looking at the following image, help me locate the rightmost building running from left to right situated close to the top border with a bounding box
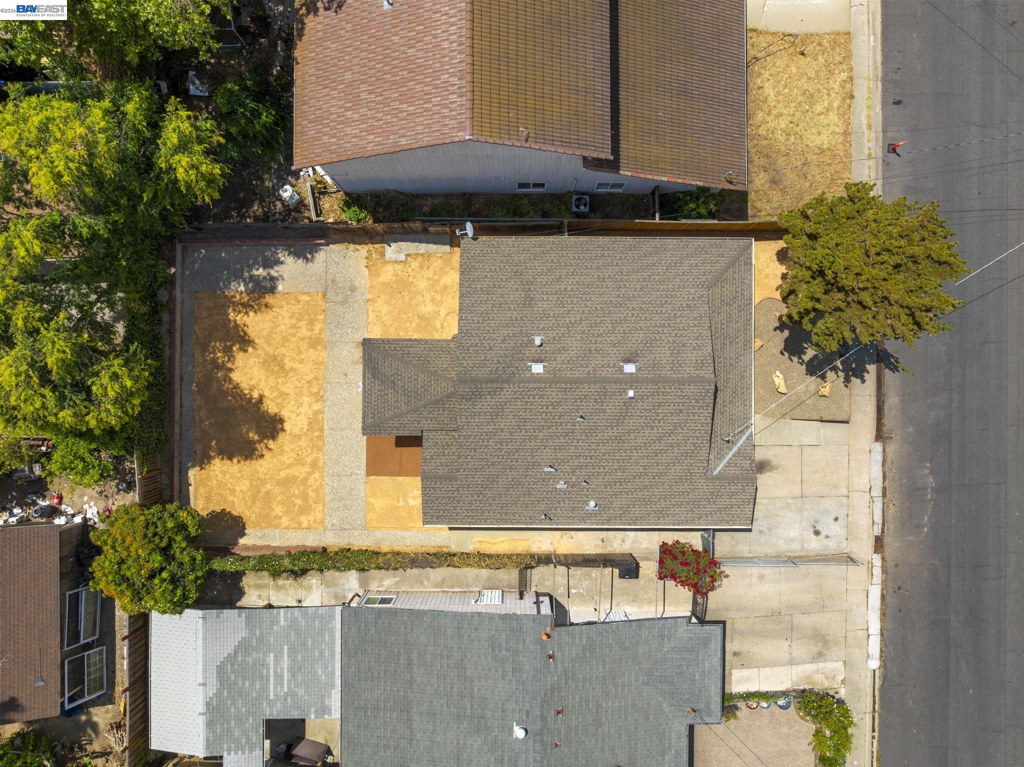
[291,0,749,194]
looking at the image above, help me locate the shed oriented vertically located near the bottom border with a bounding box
[0,518,113,733]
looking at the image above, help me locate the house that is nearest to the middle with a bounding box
[361,236,757,529]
